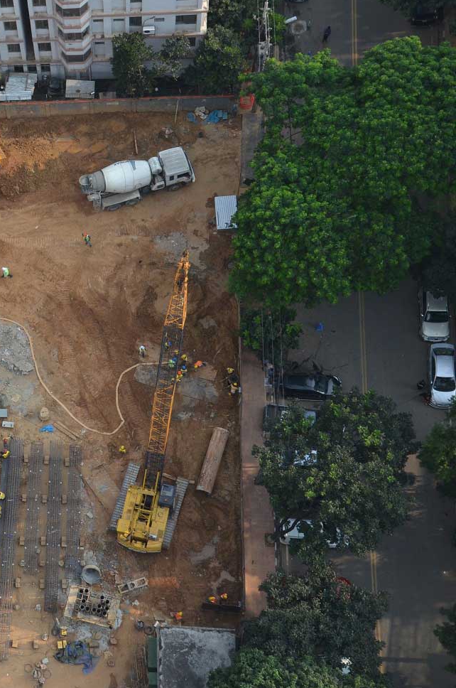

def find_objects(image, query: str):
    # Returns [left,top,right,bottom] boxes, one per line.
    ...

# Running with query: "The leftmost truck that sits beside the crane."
[78,146,196,213]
